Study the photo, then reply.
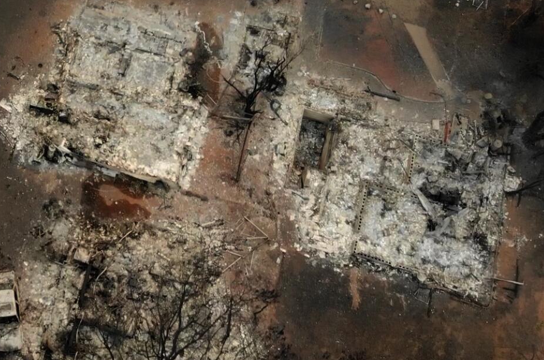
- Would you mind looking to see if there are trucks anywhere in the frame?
No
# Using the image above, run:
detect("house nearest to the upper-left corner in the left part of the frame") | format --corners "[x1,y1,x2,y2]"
[0,0,226,201]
